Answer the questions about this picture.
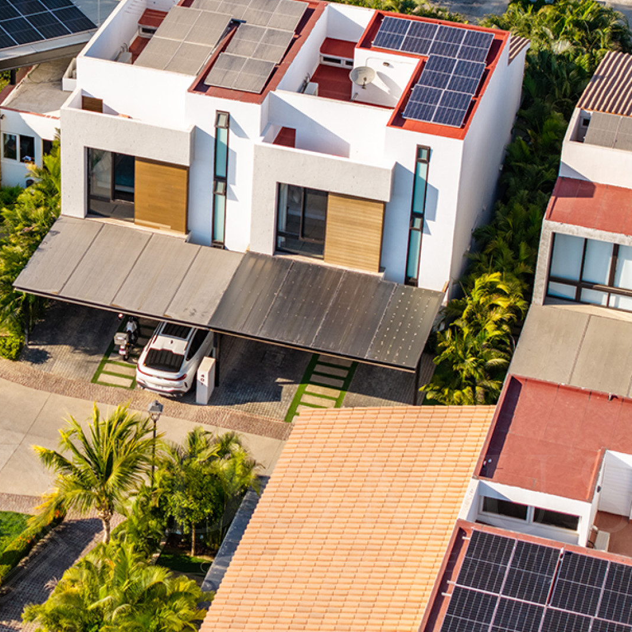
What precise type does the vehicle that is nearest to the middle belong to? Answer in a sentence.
The vehicle that is nearest to the middle appears to be an automobile.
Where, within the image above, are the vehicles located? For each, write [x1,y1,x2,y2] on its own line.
[140,325,236,395]
[108,318,147,355]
